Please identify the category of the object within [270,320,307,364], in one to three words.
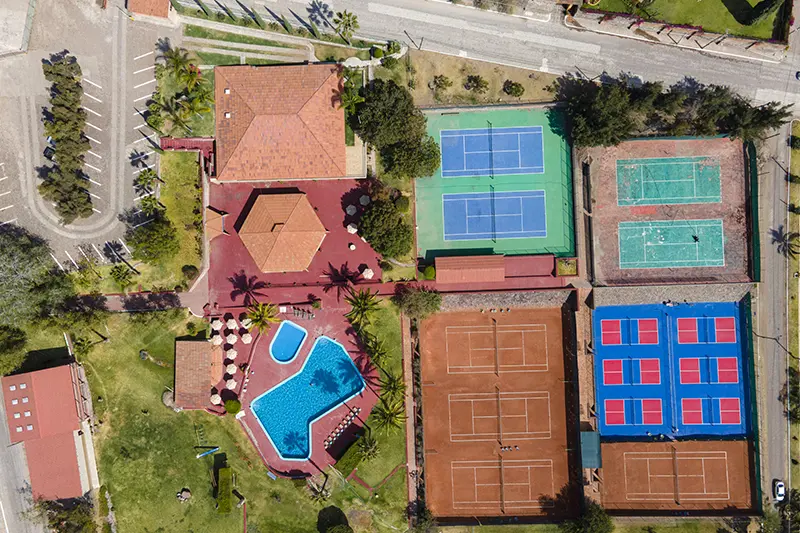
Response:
swimming pool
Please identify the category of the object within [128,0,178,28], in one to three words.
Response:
building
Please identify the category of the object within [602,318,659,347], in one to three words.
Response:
sports court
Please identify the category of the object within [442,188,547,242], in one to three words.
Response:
tennis court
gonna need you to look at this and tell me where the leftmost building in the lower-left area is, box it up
[2,363,105,503]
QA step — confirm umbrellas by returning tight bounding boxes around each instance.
[227,349,238,359]
[227,334,238,344]
[363,268,373,279]
[211,393,222,403]
[348,222,357,233]
[212,320,223,330]
[227,363,238,374]
[242,333,252,344]
[227,318,238,329]
[347,205,356,216]
[227,379,237,389]
[360,195,370,206]
[212,334,223,345]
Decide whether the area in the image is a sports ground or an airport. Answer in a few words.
sports ground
